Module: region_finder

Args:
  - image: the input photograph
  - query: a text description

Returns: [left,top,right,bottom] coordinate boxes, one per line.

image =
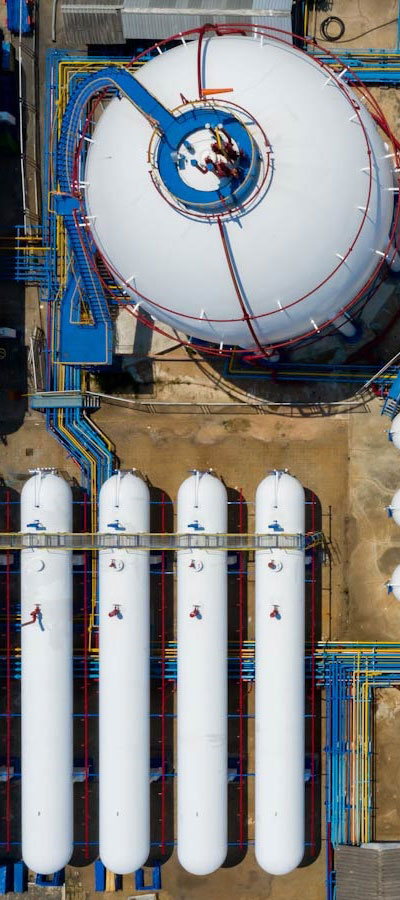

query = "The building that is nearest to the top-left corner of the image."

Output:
[47,0,125,43]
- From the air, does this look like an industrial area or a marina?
industrial area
